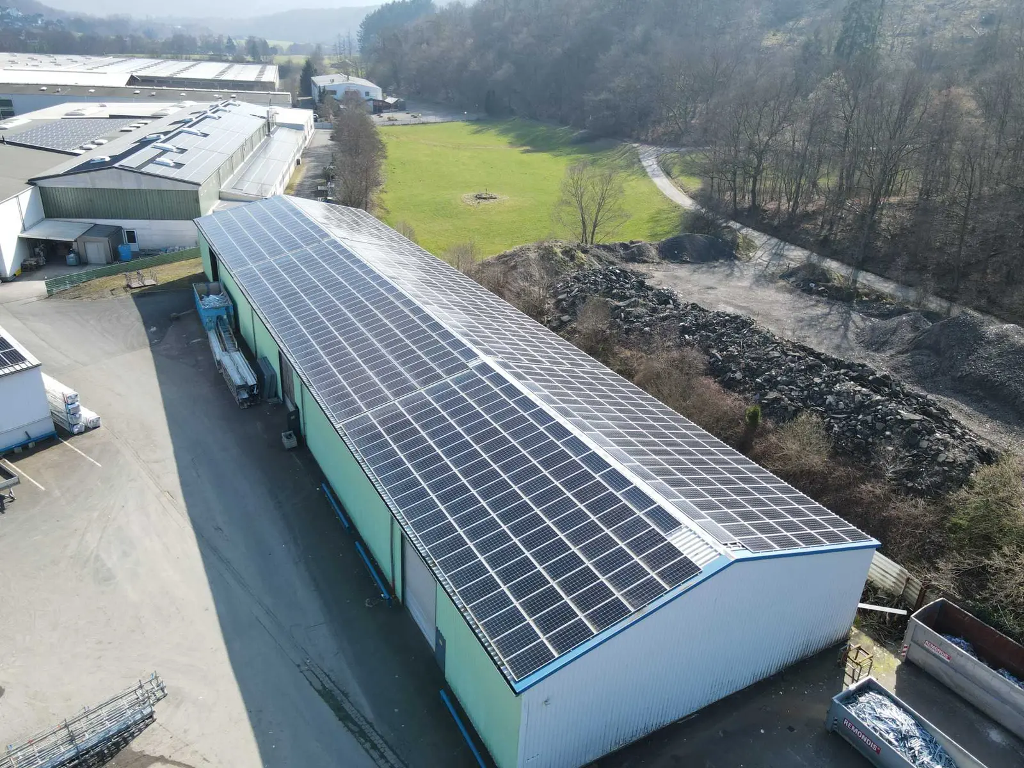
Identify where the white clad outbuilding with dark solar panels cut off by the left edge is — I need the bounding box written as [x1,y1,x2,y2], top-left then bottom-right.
[0,333,55,447]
